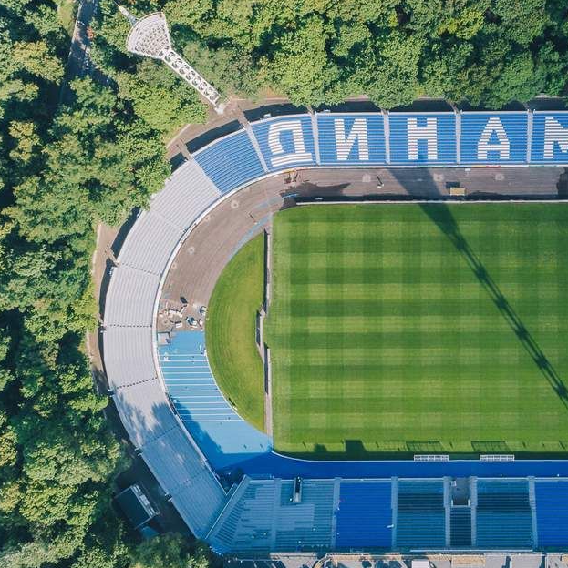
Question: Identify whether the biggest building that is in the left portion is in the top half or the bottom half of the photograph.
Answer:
bottom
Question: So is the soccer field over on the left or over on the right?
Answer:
right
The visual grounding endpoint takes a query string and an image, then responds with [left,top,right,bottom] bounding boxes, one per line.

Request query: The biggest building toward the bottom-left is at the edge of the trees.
[110,483,164,537]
